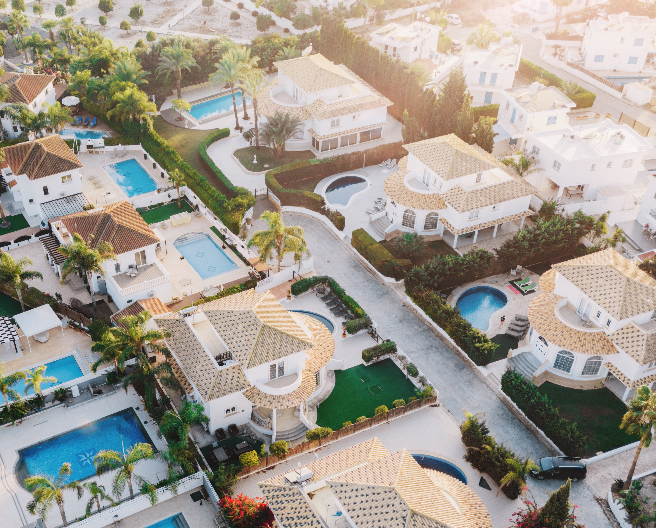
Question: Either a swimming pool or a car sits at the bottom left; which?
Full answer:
It is a swimming pool that can be seen at the bottom left.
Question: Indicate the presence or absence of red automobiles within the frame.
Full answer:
No, there is no red automobile in the image.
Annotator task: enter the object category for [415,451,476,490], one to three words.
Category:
swimming pool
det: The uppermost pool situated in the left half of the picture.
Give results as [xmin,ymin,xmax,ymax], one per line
[187,89,257,123]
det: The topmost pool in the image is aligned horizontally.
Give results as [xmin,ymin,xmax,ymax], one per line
[603,74,654,87]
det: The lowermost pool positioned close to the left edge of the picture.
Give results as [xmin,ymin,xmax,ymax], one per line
[14,407,153,495]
